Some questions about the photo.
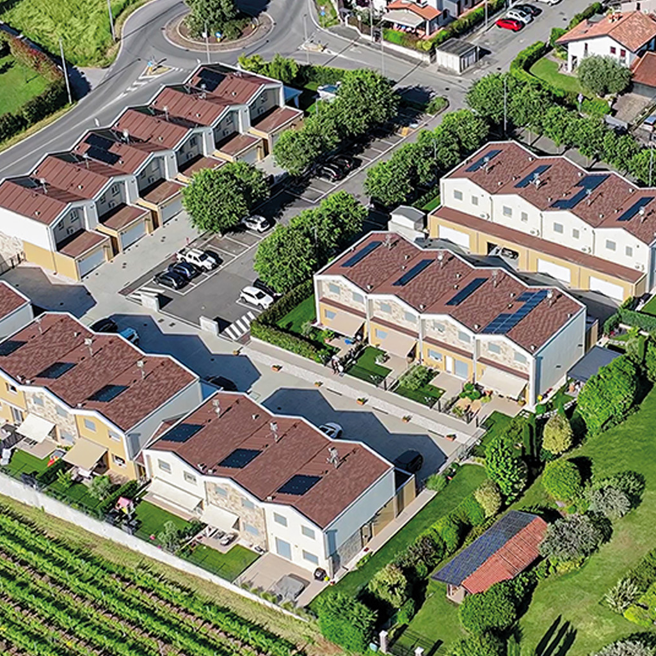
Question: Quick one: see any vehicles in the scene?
Yes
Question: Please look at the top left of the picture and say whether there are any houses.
Yes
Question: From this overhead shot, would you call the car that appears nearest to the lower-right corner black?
Yes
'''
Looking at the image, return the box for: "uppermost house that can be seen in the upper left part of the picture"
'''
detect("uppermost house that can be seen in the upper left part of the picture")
[0,56,294,281]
